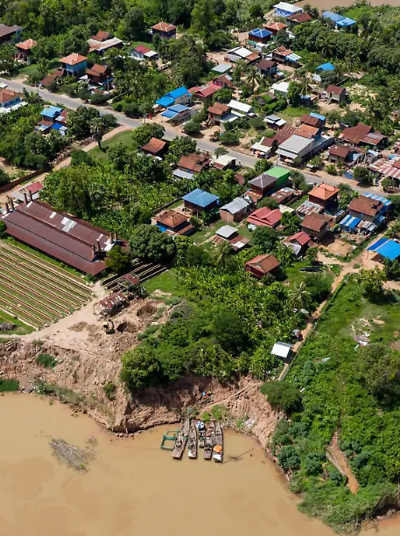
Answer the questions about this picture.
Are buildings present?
Yes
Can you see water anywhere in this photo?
Yes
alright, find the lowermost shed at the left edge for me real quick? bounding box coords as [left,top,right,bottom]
[2,185,130,280]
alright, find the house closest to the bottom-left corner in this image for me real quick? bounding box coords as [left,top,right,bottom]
[92,289,126,317]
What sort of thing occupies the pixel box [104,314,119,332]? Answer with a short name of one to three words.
work vehicle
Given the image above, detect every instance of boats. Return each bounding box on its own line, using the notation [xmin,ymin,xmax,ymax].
[174,416,191,459]
[205,421,215,459]
[214,422,224,462]
[189,419,196,458]
[196,420,204,448]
